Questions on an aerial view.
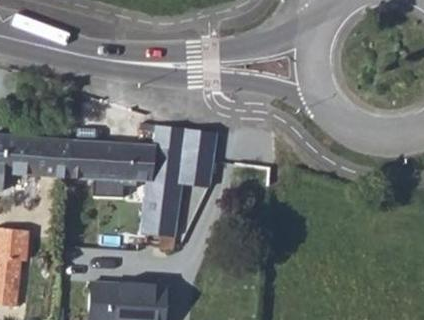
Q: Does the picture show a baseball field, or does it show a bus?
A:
bus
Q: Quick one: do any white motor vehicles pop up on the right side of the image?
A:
No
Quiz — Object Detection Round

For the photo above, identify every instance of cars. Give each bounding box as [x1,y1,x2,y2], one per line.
[68,264,88,274]
[93,258,118,269]
[98,44,122,54]
[145,48,164,58]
